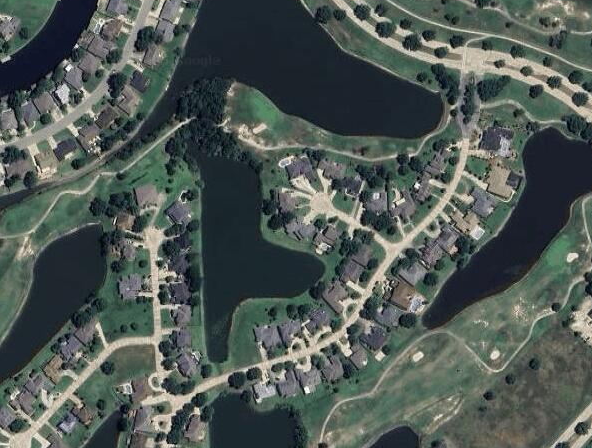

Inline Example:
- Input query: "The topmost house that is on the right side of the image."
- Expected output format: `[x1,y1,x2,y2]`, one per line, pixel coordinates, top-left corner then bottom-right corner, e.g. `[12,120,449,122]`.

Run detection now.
[475,126,505,155]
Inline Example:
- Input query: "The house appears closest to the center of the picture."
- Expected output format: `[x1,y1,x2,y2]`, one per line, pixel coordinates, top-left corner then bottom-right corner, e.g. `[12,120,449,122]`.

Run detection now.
[284,216,317,238]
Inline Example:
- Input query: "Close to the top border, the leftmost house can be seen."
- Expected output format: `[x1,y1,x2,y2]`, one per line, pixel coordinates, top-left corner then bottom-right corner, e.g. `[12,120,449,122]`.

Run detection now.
[0,12,21,40]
